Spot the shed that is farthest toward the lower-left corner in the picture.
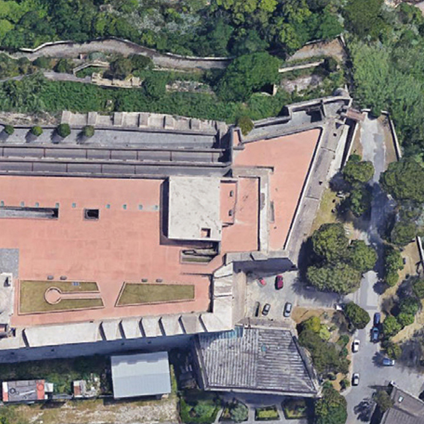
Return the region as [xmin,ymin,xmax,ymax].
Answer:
[3,380,53,404]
